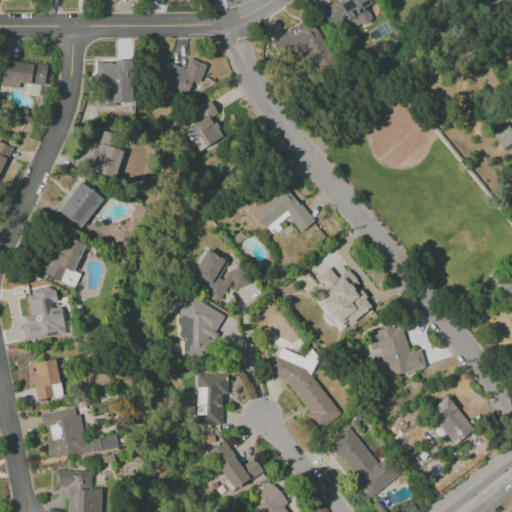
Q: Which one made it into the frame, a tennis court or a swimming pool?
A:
swimming pool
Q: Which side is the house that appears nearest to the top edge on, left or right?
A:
right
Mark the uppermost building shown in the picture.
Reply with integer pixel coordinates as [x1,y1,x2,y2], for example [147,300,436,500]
[326,0,377,28]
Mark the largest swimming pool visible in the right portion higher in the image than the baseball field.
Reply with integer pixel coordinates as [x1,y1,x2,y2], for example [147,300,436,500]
[370,22,392,41]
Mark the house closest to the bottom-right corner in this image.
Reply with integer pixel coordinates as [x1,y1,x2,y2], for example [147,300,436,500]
[440,396,472,444]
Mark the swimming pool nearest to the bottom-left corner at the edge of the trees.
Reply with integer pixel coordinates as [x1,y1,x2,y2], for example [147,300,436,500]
[86,260,102,289]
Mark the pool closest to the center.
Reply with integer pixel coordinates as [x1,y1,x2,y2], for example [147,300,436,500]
[244,235,267,261]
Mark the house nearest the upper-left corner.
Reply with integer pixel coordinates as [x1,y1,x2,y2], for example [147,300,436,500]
[2,62,48,96]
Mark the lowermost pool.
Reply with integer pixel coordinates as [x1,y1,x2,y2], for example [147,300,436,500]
[386,486,412,504]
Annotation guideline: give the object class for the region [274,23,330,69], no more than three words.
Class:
house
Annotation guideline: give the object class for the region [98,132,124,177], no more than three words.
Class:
house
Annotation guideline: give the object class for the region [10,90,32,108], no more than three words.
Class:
swimming pool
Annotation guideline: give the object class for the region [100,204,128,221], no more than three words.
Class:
swimming pool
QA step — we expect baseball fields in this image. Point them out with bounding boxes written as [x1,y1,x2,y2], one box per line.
[322,104,512,290]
